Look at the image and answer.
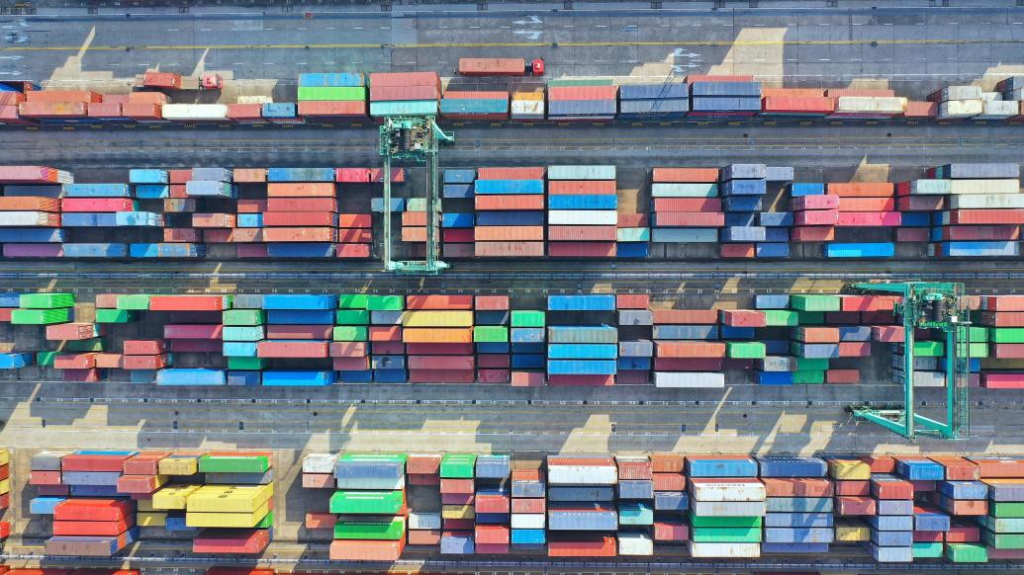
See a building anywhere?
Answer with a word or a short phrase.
No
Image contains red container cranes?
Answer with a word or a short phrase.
No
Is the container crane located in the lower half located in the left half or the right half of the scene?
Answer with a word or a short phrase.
right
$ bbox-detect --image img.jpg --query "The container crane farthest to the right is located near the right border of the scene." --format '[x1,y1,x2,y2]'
[836,277,974,443]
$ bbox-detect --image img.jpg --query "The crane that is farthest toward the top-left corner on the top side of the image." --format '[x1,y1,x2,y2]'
[376,105,456,277]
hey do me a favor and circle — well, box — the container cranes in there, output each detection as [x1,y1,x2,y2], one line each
[836,277,974,443]
[376,105,456,277]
